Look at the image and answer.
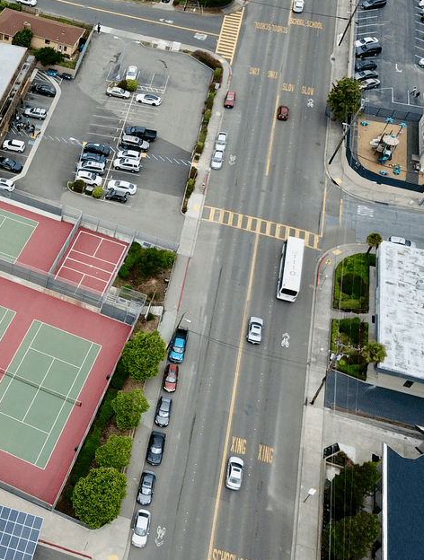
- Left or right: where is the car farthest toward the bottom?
left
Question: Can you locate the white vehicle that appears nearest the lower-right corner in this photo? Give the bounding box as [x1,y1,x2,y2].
[225,457,244,491]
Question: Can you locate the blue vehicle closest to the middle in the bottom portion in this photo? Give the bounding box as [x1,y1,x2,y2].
[168,329,188,362]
